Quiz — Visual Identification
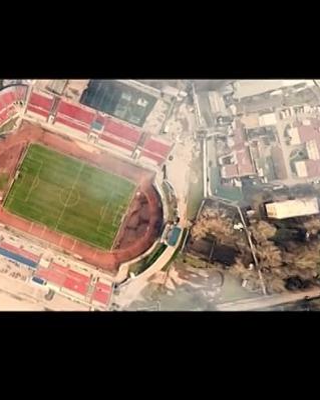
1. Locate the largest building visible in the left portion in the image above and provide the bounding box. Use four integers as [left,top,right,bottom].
[80,80,158,128]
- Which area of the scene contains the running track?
left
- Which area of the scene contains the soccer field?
left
